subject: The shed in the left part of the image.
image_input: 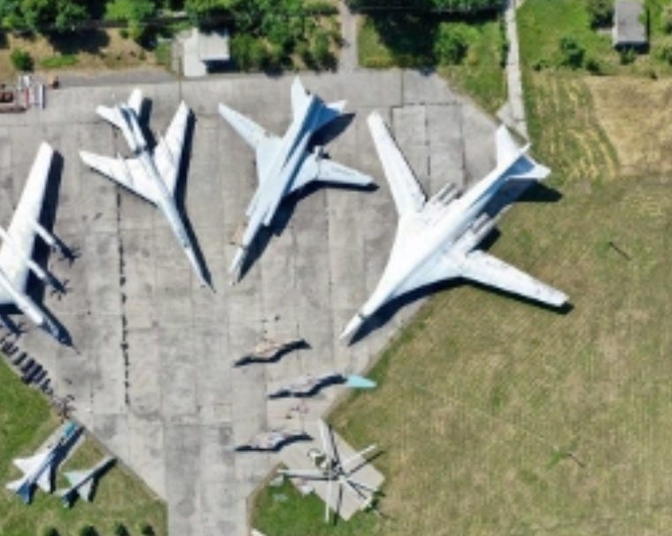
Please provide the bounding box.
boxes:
[200,33,229,60]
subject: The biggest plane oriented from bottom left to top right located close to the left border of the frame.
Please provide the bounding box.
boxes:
[4,421,80,504]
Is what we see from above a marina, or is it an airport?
airport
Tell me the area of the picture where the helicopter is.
bottom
